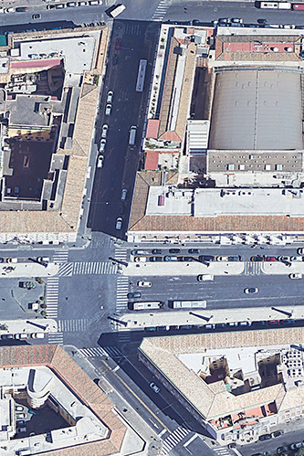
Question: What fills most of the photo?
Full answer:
For the most part, this view shows buildings.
